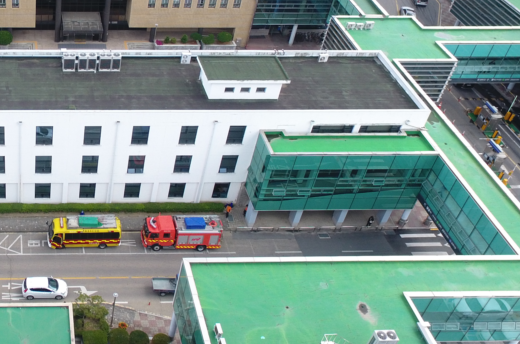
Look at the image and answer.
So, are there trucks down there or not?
Yes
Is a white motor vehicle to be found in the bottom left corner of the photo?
Yes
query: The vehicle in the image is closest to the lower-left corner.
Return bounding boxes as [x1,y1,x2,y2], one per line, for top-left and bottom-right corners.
[23,273,67,298]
